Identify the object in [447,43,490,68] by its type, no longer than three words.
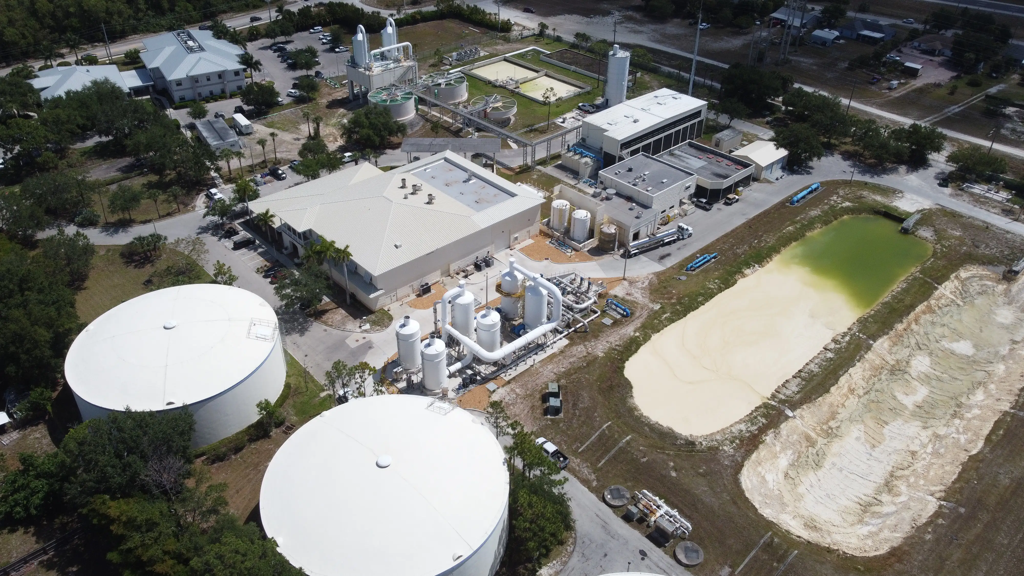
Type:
building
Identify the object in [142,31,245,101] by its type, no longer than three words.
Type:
building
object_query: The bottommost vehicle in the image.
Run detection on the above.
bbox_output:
[538,434,569,464]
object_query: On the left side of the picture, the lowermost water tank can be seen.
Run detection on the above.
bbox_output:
[259,389,510,576]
